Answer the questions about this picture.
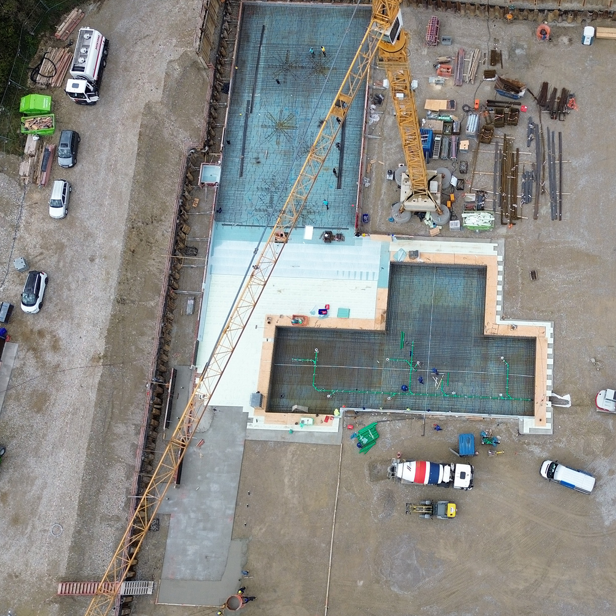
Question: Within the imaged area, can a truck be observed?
Yes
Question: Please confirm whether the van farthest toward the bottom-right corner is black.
No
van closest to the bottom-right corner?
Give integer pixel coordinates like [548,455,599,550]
[538,459,599,497]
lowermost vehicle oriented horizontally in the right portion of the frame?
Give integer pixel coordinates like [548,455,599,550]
[402,500,456,521]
